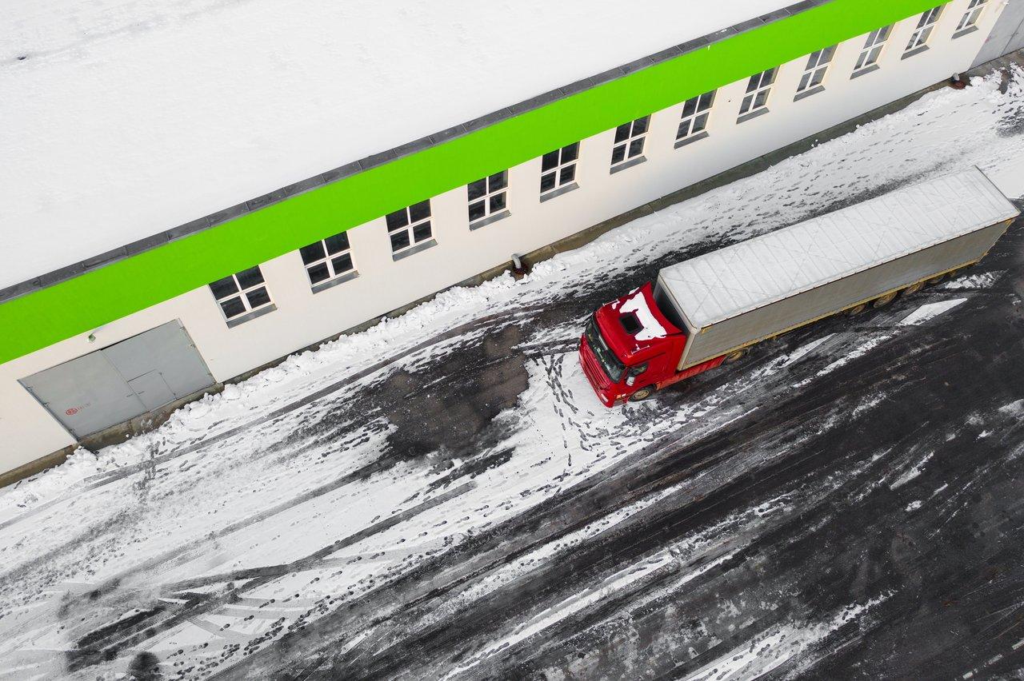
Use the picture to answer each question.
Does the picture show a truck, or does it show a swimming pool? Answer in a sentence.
There is a truck in the scene.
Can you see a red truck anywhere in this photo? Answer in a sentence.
Yes, there's a red truck down there.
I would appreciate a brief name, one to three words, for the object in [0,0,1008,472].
building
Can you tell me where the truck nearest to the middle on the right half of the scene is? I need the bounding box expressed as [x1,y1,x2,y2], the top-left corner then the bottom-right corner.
[580,283,749,406]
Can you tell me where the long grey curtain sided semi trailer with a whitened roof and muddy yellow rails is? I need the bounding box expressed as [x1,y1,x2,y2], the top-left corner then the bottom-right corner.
[650,167,1020,374]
